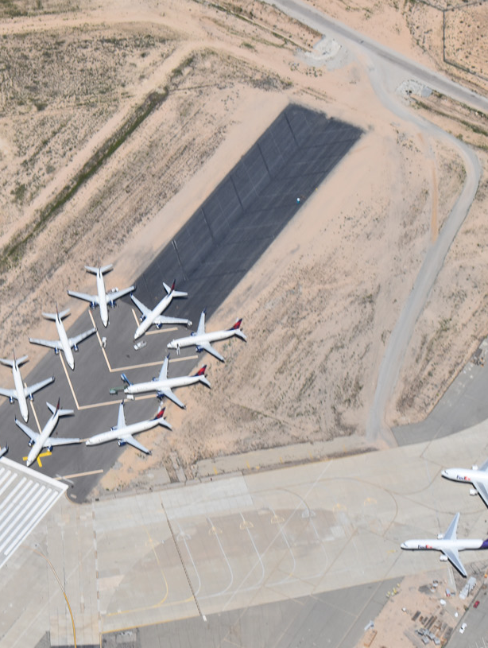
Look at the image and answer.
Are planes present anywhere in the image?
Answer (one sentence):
Yes, the image includes a plane.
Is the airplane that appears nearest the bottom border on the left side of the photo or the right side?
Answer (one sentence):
The airplane that appears nearest the bottom border sits on the right side.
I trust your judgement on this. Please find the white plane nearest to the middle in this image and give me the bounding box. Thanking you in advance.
[168,307,245,359]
